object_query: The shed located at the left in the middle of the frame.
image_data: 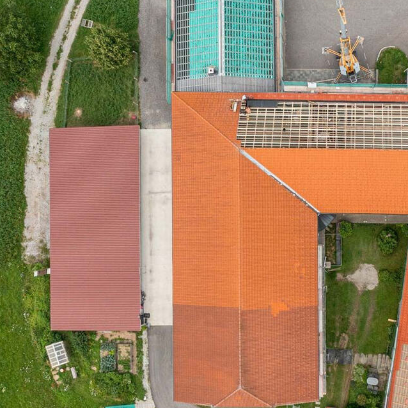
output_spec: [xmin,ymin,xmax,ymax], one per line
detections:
[26,125,144,332]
